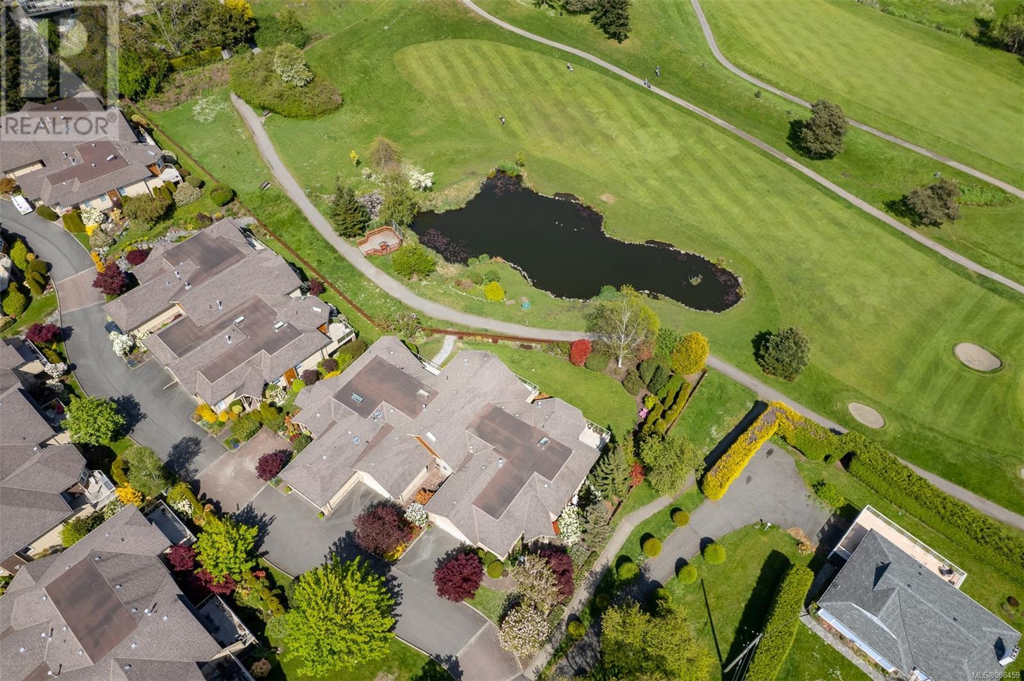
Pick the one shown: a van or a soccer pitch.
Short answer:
van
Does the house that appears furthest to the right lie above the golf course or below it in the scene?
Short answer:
below it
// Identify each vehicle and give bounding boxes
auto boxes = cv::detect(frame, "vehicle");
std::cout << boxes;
[9,189,37,222]
[100,319,120,336]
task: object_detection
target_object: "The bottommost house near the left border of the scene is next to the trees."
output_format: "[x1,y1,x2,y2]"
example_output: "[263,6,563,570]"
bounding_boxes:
[0,499,257,681]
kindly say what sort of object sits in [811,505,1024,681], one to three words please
house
